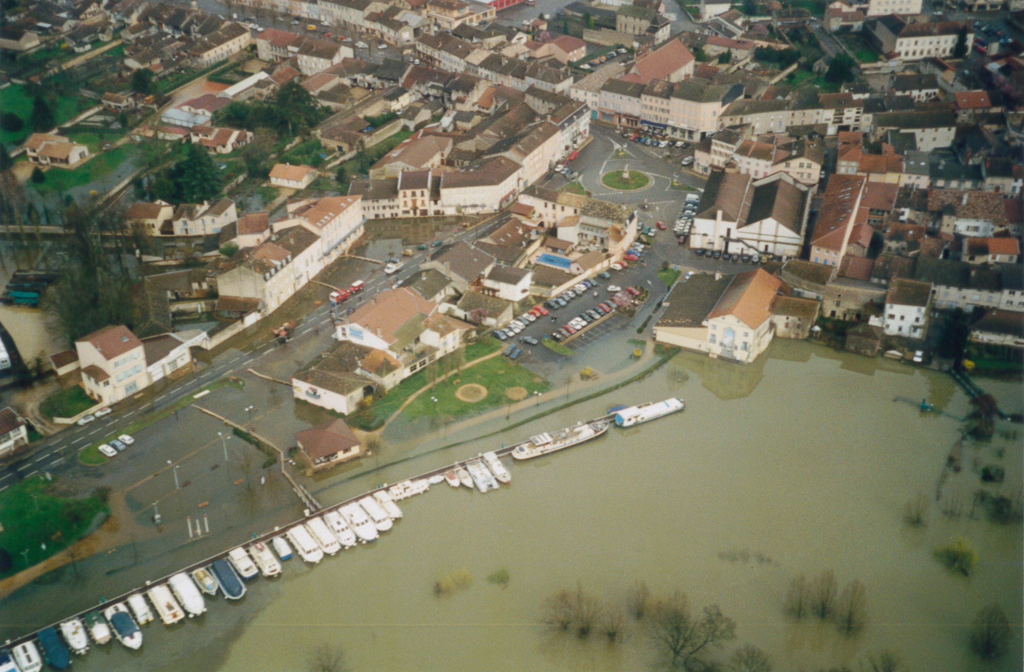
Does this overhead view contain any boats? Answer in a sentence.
Yes, a boat is visible in the scene.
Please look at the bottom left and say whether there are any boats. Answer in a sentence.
Yes, a boat shows up at the bottom left.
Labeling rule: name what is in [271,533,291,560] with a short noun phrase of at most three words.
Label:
boat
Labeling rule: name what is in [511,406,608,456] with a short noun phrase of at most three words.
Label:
vessel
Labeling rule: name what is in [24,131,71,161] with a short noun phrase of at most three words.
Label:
house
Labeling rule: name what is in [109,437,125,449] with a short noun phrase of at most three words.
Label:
vehicle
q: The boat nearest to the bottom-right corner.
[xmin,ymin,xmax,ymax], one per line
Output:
[921,392,936,412]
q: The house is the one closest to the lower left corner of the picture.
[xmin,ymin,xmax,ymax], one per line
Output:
[0,404,30,457]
